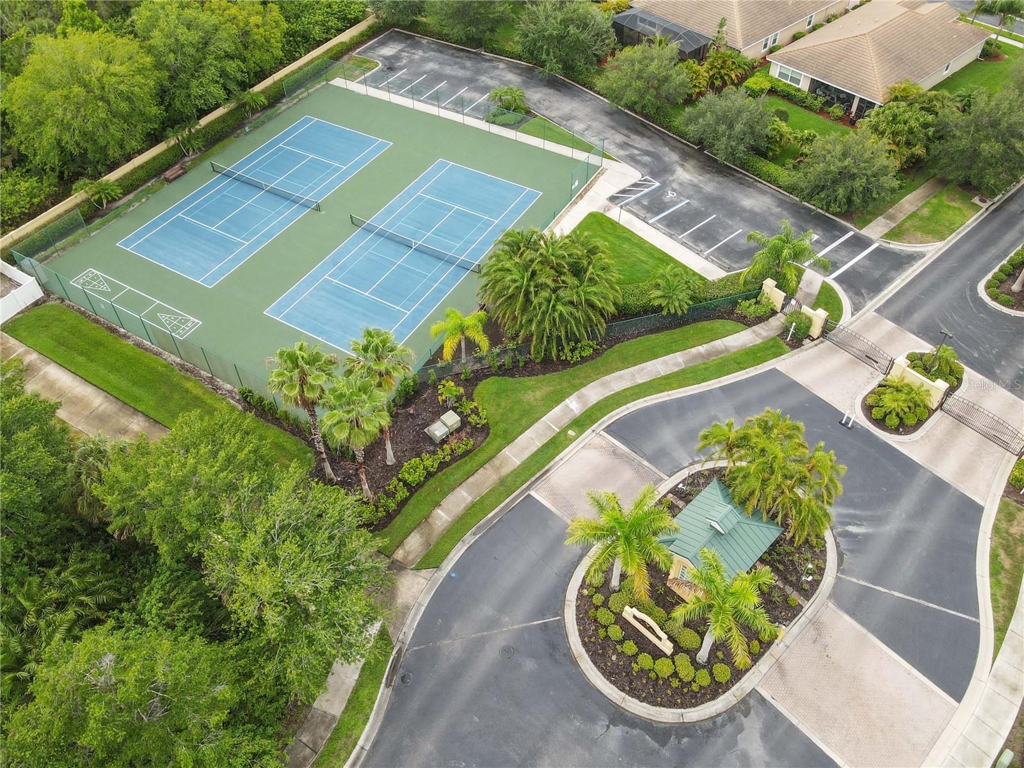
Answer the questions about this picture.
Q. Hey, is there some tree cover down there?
Yes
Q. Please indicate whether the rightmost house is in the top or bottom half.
top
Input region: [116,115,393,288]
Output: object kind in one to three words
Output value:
tennis court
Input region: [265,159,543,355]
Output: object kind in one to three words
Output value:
tennis court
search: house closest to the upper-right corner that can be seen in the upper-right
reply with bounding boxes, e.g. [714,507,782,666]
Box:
[765,0,988,123]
